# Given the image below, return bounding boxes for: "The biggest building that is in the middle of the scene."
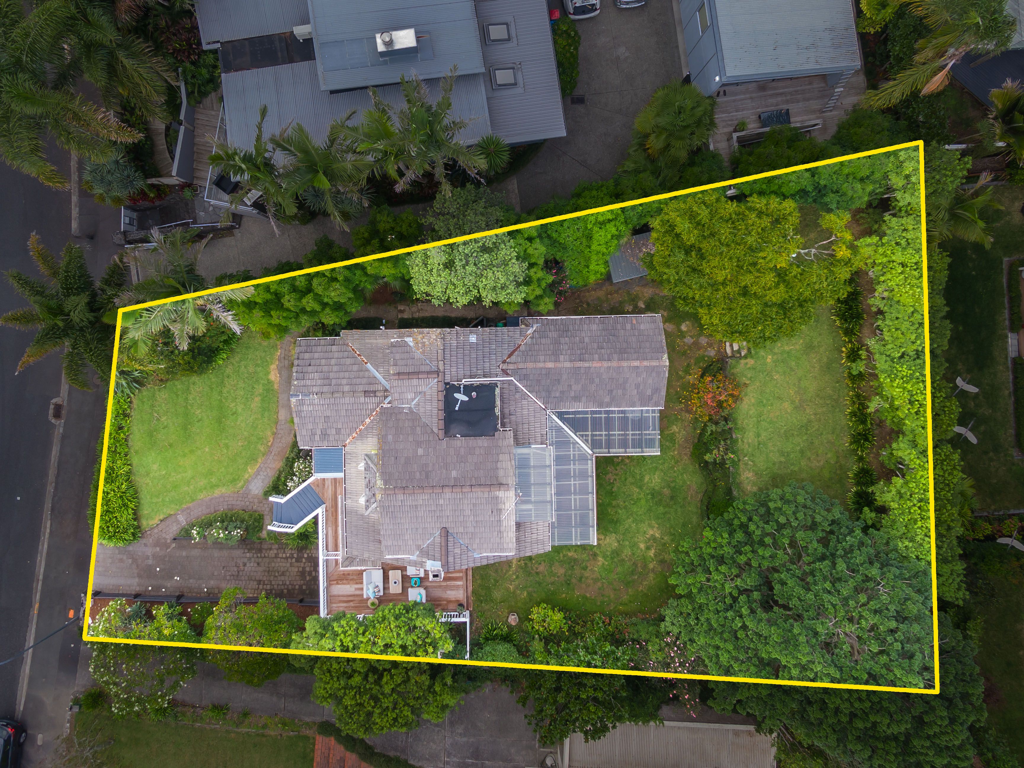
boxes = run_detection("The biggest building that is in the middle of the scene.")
[289,314,670,581]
